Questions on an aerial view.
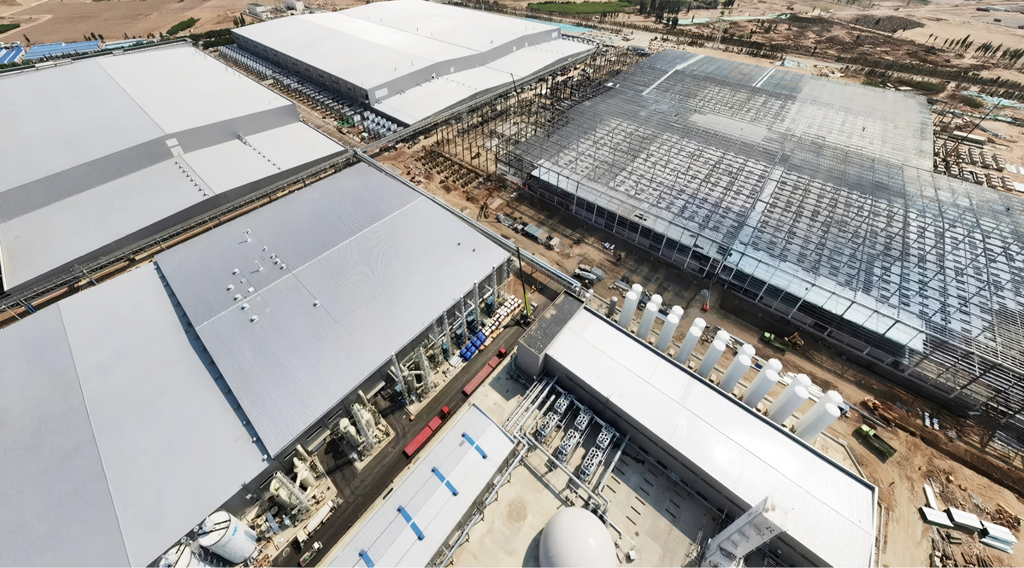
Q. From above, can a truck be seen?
Yes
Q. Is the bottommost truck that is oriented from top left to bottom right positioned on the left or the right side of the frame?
right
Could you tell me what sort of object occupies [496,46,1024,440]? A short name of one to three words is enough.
building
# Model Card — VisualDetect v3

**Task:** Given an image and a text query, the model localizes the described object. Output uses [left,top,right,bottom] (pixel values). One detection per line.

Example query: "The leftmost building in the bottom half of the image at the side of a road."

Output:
[0,258,278,568]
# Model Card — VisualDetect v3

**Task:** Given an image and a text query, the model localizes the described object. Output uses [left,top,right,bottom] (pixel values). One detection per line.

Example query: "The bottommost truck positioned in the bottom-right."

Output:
[863,425,910,461]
